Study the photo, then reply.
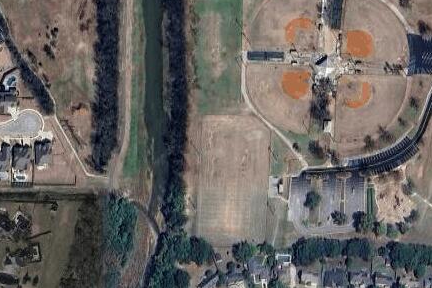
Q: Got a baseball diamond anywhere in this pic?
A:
Yes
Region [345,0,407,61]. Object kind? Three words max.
baseball field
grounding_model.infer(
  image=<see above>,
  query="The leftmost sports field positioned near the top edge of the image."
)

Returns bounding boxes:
[195,0,242,113]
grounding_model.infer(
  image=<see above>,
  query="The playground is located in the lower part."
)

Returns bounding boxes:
[378,179,417,222]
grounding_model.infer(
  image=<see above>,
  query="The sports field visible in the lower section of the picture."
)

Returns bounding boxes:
[197,116,269,239]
